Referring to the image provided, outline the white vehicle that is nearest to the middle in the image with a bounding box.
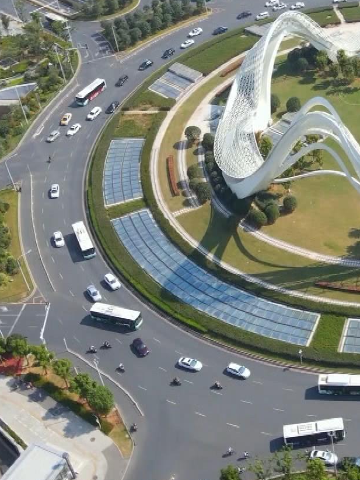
[103,273,119,290]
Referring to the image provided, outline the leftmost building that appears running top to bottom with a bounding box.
[207,105,224,138]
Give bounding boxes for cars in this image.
[103,273,119,290]
[236,11,252,19]
[50,184,60,198]
[47,130,59,141]
[337,456,360,469]
[310,452,338,466]
[181,38,195,47]
[291,0,305,9]
[255,10,269,19]
[53,232,63,246]
[116,75,129,85]
[60,114,72,125]
[162,48,176,57]
[129,339,151,355]
[107,102,119,112]
[88,107,100,118]
[139,59,153,69]
[213,25,228,34]
[177,356,201,372]
[265,0,279,7]
[272,1,287,10]
[84,285,101,302]
[225,362,251,377]
[188,26,202,36]
[68,125,80,136]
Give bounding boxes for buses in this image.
[89,304,144,330]
[72,221,96,258]
[317,374,360,396]
[71,79,107,106]
[282,418,348,447]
